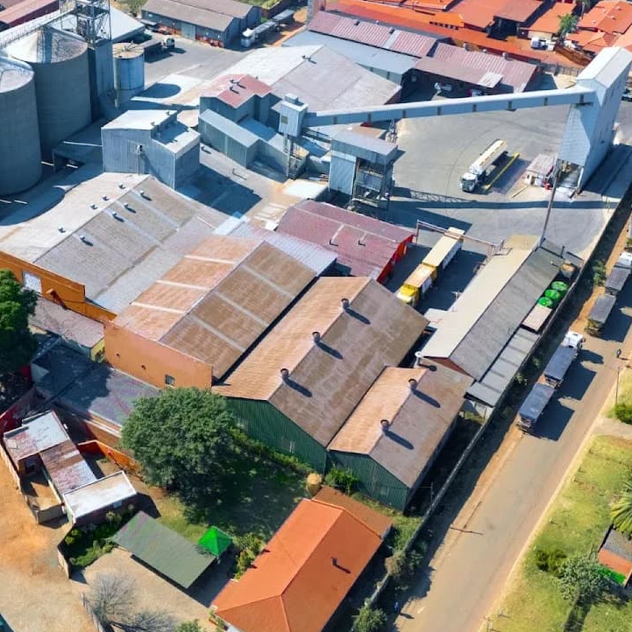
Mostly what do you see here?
buildings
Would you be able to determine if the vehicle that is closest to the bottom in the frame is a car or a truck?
truck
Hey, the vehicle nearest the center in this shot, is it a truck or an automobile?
truck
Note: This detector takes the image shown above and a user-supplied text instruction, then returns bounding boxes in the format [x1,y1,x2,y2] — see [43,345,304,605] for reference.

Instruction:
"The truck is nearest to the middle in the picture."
[408,216,468,299]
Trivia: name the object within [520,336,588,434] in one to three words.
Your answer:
truck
